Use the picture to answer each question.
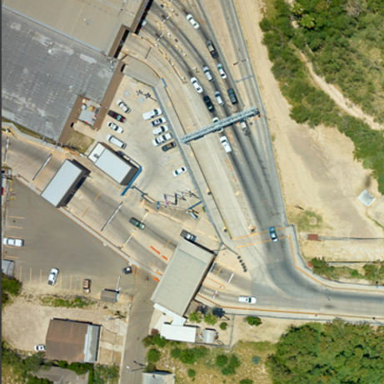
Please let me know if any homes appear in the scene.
Yes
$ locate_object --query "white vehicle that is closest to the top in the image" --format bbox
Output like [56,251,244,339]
[185,12,199,29]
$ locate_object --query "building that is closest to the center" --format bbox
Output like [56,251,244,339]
[88,143,138,184]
